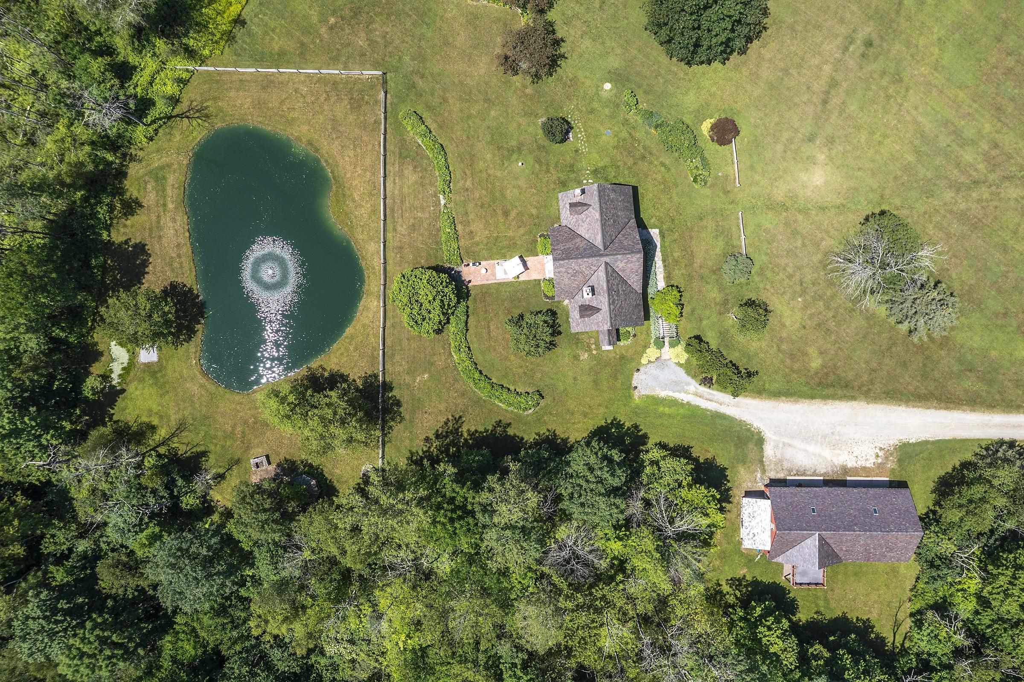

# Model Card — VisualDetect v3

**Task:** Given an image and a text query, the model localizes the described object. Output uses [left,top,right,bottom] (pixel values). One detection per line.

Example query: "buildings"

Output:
[548,184,644,351]
[761,485,924,571]
[138,342,159,365]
